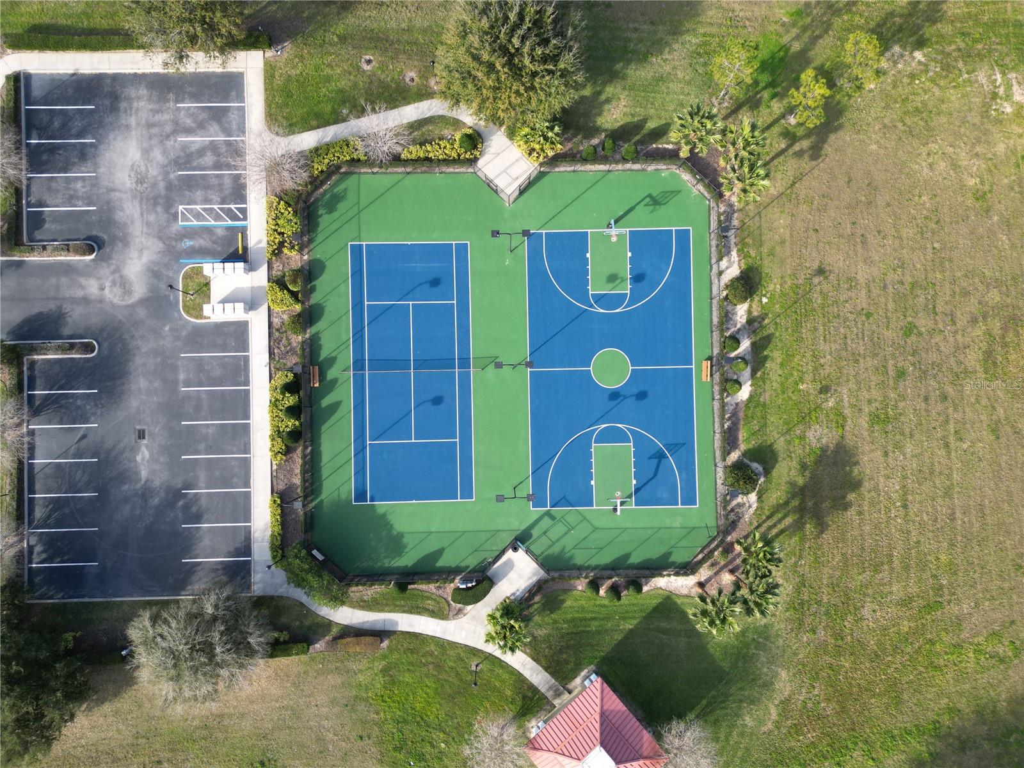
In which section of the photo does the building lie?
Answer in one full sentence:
The building sits in the bottom section of the image.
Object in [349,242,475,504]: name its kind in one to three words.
tennis court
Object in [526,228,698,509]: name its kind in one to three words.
basketball court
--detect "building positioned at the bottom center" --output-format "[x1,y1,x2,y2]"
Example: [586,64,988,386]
[519,674,669,768]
